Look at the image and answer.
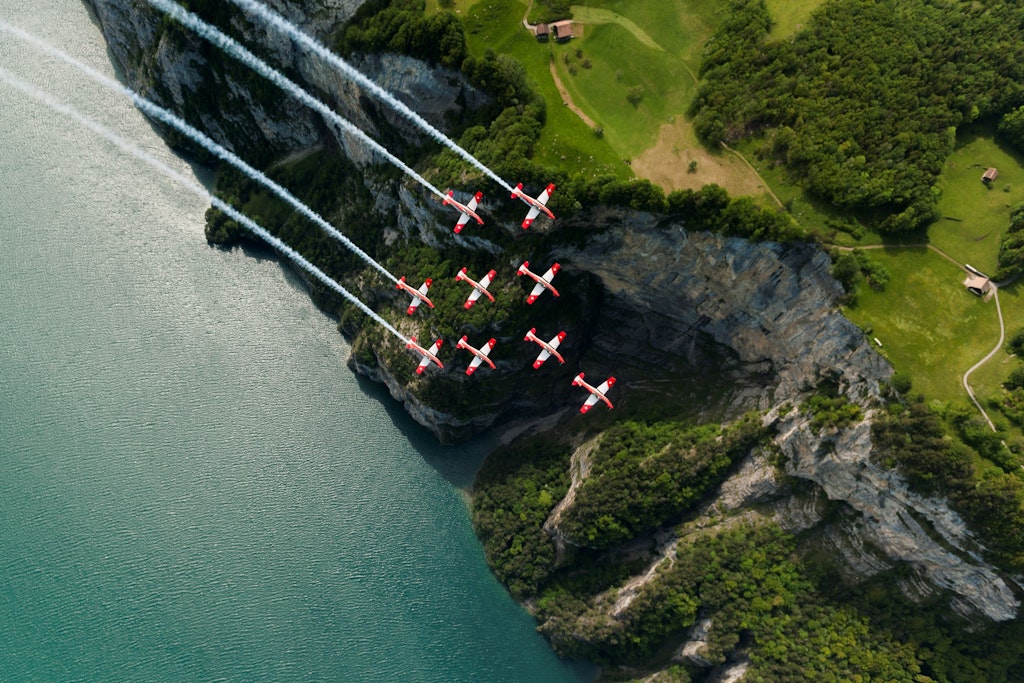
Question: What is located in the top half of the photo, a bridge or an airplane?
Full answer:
What appears in the top half of the photo is an airplane.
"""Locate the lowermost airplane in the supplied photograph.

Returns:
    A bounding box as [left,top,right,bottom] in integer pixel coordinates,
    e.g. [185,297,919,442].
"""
[571,373,614,412]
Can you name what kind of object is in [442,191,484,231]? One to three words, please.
airplane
